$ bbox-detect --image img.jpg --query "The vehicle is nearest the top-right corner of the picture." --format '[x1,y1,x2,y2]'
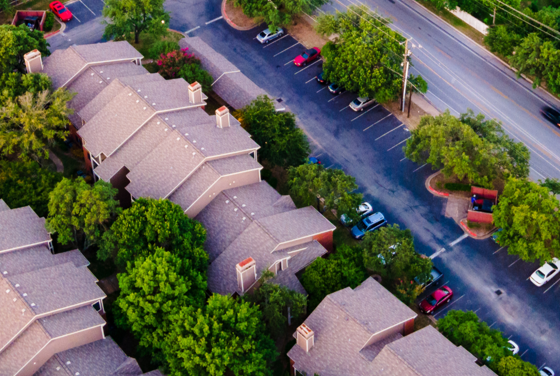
[541,107,560,130]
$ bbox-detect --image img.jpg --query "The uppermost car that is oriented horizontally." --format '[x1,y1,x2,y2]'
[256,28,284,42]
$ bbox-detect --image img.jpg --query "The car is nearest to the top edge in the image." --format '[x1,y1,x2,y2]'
[47,0,74,21]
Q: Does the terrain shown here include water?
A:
No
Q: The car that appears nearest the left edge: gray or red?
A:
red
